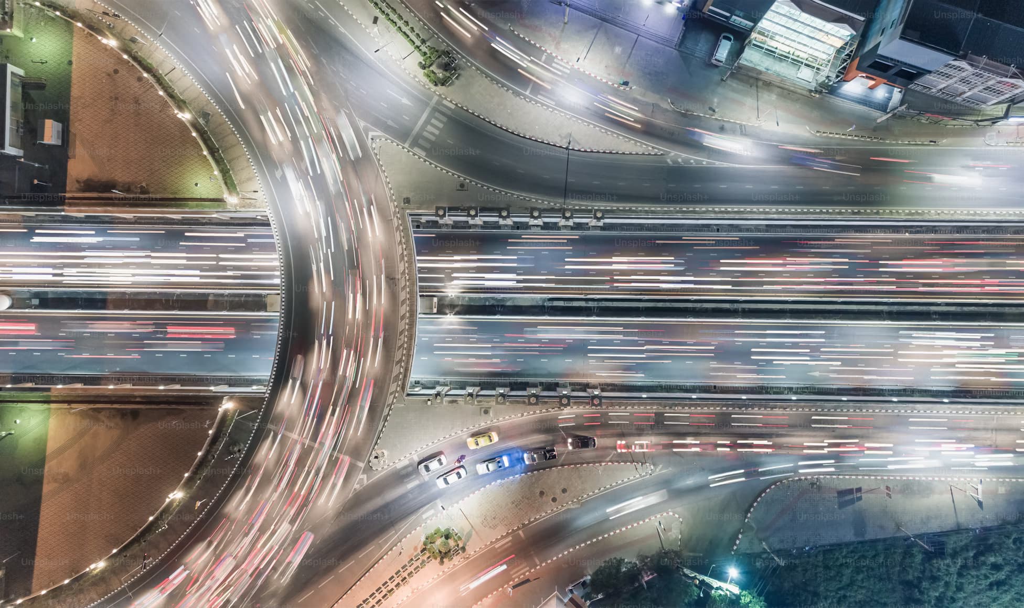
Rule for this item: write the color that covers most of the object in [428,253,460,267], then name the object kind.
white vehicle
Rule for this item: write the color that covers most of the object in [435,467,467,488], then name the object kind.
white car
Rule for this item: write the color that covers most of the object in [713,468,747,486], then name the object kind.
white car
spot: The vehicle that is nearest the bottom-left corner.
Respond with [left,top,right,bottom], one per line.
[163,557,198,589]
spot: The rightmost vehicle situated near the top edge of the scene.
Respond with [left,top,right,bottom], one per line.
[714,30,736,65]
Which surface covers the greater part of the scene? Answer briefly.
paved ground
